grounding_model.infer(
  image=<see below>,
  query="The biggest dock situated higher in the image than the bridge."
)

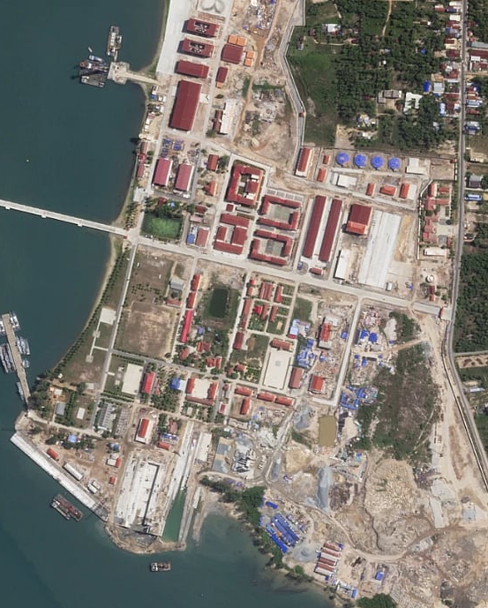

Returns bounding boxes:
[108,61,158,84]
